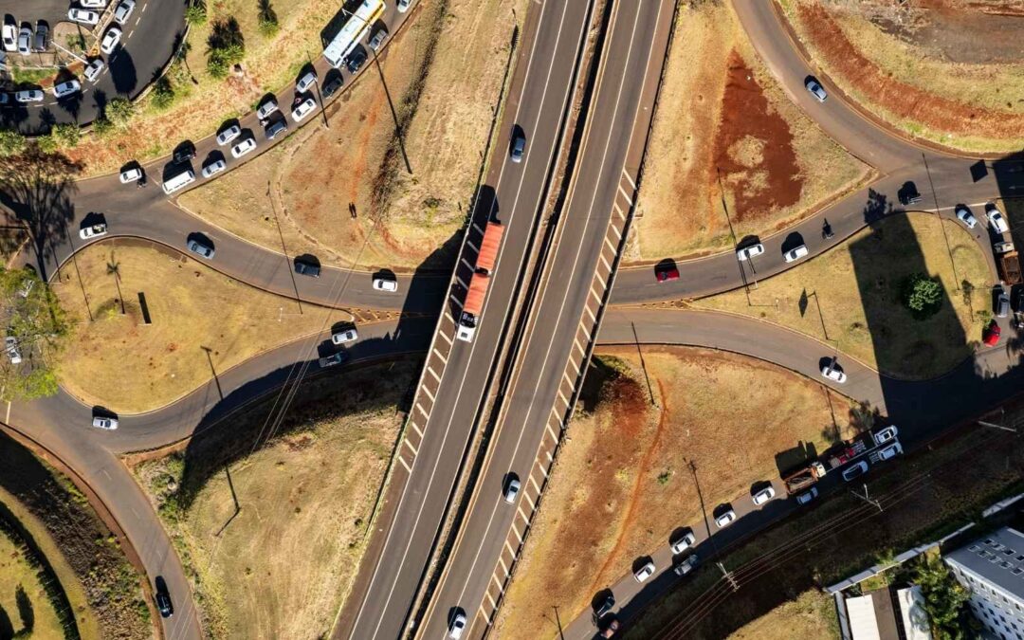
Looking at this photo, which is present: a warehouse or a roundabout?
roundabout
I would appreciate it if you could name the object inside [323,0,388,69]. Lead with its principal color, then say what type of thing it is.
white bus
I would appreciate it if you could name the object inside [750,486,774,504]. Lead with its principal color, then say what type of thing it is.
white car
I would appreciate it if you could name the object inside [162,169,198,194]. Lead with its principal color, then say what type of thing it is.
white vehicle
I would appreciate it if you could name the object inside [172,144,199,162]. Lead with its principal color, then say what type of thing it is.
black car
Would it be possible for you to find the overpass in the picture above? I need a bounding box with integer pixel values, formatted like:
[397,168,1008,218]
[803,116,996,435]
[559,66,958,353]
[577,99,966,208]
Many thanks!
[330,0,676,640]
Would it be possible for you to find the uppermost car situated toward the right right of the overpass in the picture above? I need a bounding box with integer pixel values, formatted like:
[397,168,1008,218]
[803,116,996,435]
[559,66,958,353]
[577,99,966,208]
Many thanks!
[805,79,827,101]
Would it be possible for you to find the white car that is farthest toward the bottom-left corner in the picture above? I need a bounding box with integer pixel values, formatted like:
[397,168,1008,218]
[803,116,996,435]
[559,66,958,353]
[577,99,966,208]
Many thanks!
[92,416,120,429]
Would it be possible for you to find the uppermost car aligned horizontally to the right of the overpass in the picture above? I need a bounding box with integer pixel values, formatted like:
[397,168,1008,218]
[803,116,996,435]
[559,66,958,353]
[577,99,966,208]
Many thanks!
[893,191,921,206]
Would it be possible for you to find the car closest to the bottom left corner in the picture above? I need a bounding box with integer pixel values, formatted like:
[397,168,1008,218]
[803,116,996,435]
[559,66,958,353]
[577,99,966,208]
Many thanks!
[157,593,173,617]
